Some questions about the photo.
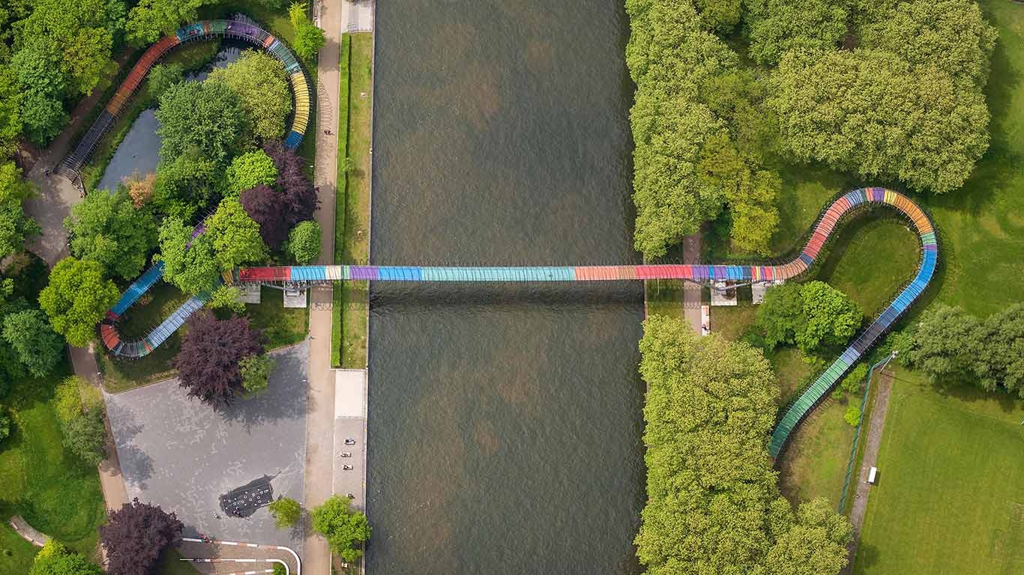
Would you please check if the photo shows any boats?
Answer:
No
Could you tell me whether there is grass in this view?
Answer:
Yes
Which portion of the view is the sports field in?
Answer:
bottom right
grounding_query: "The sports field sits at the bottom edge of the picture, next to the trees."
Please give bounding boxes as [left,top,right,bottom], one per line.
[858,376,1024,575]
